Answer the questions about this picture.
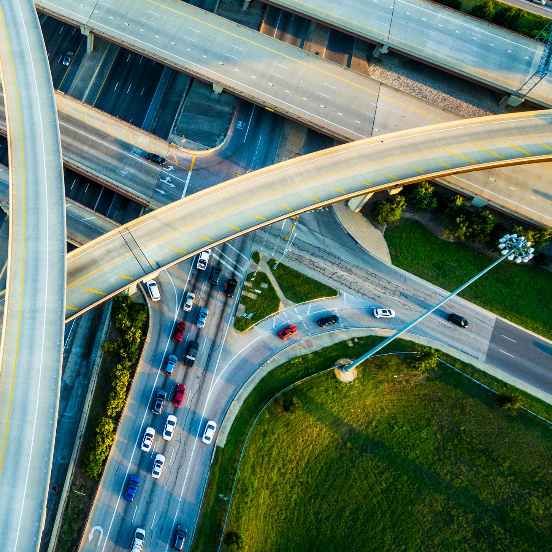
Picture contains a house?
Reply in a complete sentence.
No, no house is visible in the scene.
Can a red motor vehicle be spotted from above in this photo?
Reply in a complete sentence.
Yes, the image includes a red motor vehicle.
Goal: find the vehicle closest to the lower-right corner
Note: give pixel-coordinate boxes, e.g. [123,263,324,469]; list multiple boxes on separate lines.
[445,312,471,331]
